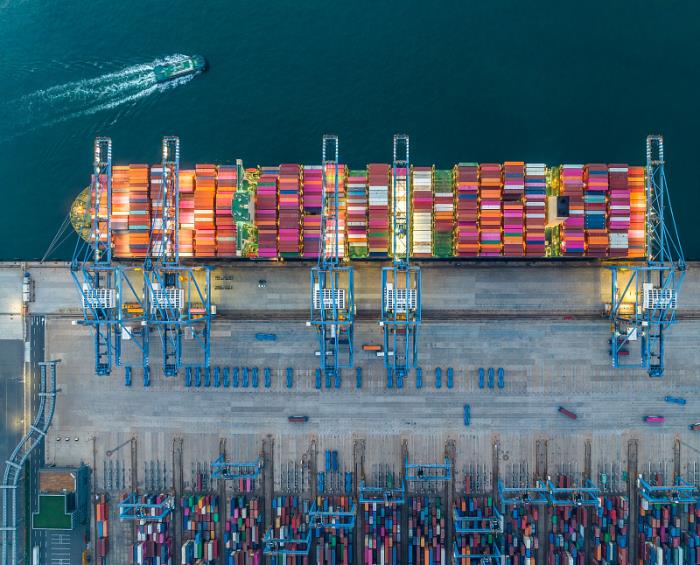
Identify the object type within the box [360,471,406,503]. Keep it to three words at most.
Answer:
crane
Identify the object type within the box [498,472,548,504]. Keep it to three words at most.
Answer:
crane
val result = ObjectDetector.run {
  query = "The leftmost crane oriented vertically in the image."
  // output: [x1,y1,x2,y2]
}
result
[70,128,163,376]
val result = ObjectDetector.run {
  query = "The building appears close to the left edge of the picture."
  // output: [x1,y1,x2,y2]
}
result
[32,463,90,529]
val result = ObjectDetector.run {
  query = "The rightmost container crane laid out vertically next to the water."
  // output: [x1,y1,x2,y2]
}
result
[597,128,691,376]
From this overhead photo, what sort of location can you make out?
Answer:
port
